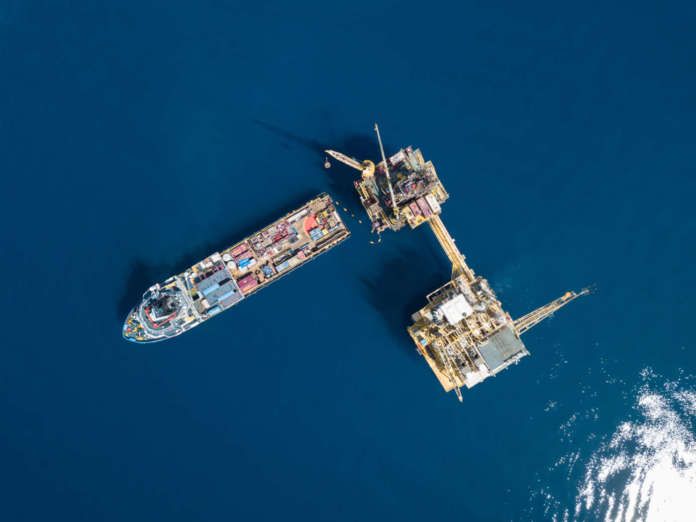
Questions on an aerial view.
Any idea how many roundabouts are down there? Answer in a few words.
0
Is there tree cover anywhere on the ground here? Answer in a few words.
No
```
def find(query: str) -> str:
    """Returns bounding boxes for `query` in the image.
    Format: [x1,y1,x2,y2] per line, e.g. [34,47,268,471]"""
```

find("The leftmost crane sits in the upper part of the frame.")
[324,150,377,181]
